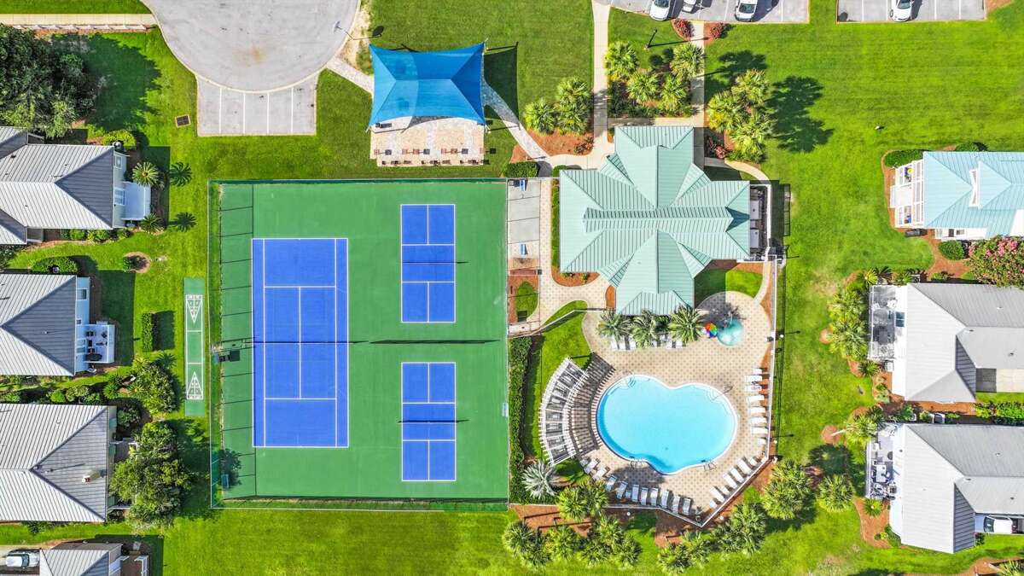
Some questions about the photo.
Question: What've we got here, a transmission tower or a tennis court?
tennis court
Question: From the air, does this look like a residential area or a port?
residential area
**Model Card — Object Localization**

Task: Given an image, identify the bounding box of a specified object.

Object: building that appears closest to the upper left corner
[0,127,154,245]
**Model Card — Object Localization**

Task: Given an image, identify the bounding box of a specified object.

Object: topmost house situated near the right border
[888,151,1024,239]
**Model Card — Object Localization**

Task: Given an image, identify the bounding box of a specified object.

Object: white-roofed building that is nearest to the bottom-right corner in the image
[863,422,1024,554]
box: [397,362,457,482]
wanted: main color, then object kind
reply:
blue sports court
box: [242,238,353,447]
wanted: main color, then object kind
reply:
blue tennis court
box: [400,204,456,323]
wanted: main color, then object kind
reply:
blue sports court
